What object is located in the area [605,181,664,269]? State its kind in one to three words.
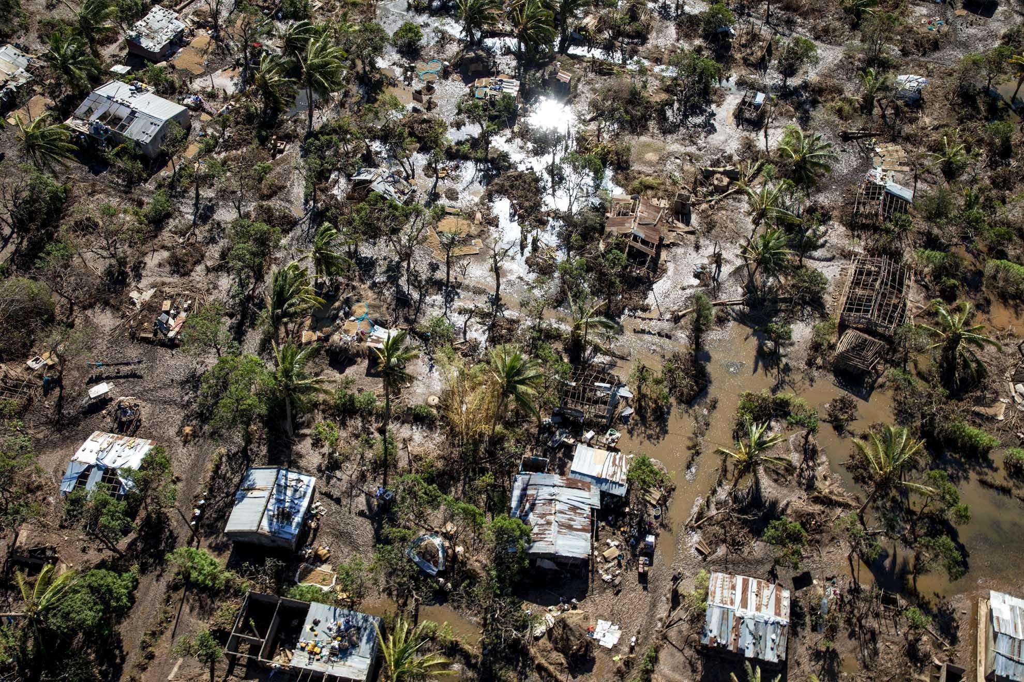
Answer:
house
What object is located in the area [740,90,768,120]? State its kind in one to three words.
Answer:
shed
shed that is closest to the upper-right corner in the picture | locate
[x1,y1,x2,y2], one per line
[895,75,928,107]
